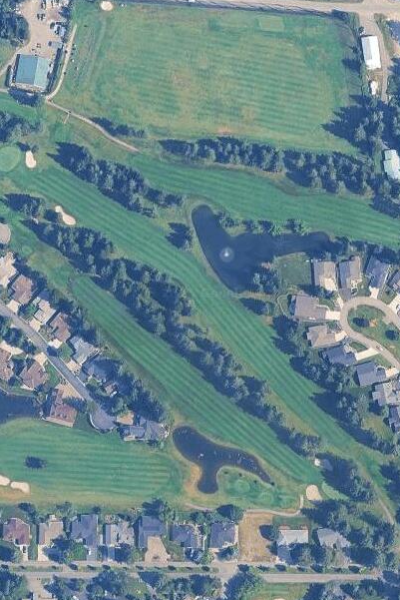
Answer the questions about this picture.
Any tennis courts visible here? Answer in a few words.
No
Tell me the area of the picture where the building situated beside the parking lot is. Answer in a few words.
top left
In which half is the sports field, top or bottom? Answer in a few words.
top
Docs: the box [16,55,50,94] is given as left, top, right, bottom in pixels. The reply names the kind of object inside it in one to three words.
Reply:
building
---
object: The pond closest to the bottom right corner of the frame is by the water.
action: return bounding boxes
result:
[172,426,274,493]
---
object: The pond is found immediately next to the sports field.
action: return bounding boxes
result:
[191,204,347,291]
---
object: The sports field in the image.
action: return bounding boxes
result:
[57,1,358,154]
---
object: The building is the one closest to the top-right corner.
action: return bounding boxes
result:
[363,35,382,71]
